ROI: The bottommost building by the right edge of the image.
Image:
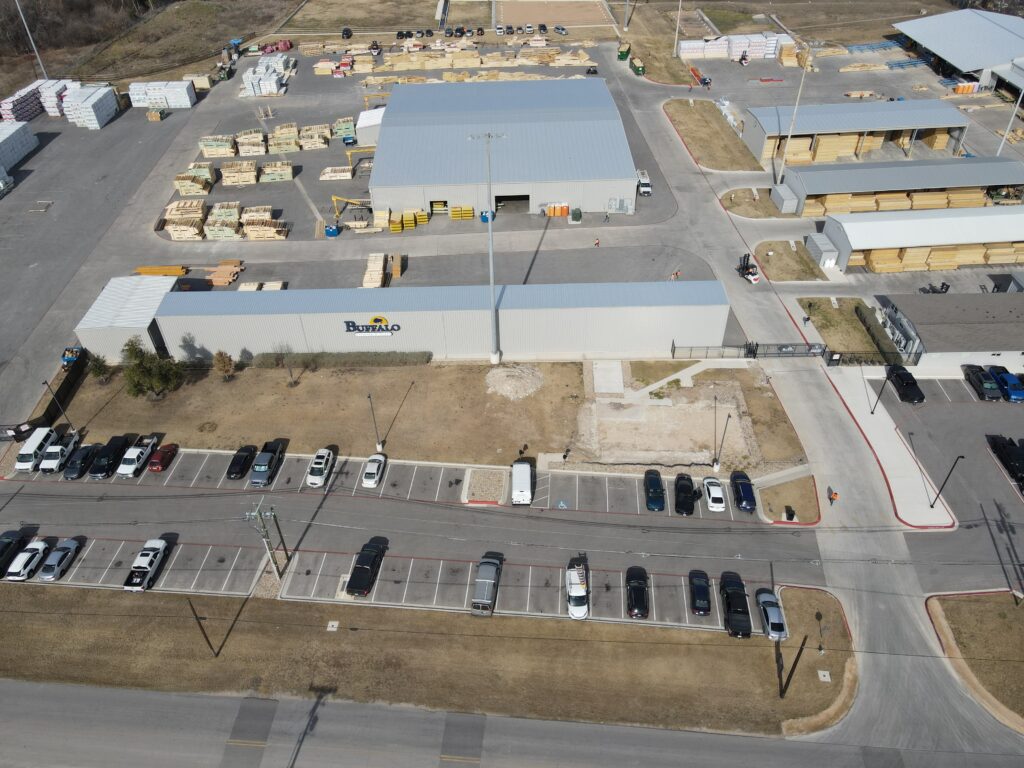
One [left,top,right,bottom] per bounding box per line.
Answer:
[883,293,1024,370]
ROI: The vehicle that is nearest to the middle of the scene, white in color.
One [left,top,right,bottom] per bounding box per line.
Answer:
[511,460,535,505]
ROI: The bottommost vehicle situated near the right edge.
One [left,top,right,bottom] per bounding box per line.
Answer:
[993,442,1024,488]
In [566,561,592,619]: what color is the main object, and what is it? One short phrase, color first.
white vehicle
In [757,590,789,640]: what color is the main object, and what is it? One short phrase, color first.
gray car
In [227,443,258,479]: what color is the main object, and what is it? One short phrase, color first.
black car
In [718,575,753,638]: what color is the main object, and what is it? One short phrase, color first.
black truck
